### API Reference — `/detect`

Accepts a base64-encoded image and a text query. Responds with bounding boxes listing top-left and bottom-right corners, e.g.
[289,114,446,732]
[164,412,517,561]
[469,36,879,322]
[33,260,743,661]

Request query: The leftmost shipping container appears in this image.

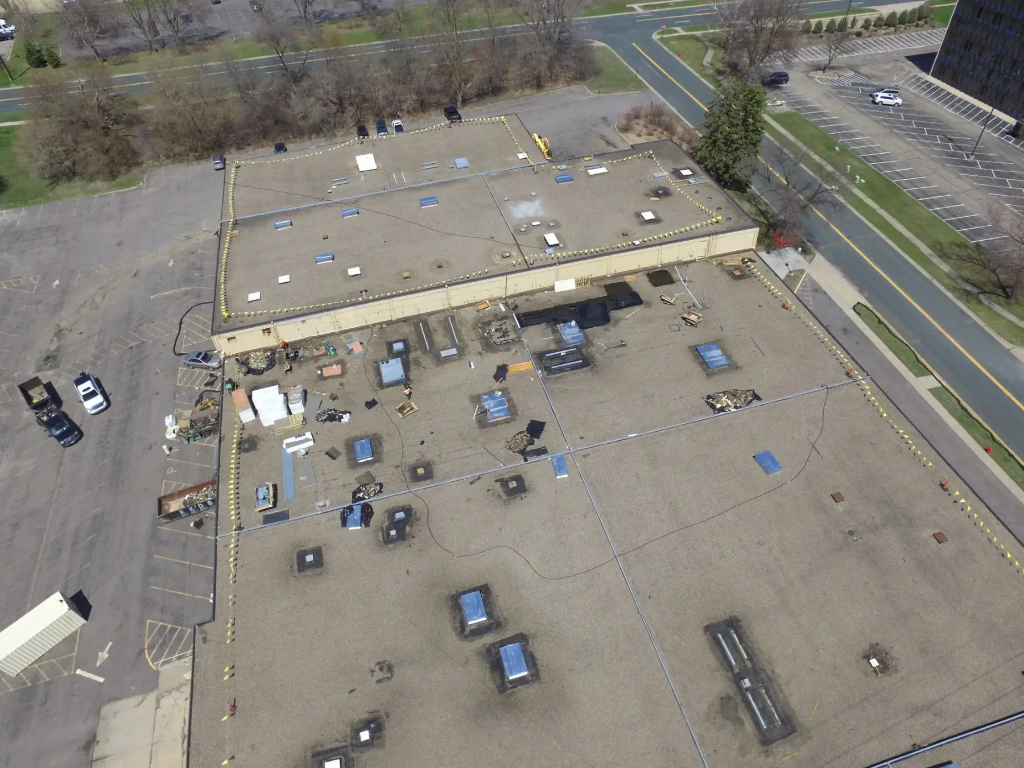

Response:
[0,590,86,676]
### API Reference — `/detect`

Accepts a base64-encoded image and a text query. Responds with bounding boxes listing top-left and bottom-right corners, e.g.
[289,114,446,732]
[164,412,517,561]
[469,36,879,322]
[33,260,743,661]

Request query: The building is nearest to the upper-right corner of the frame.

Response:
[929,0,1024,122]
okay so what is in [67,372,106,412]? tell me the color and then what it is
white truck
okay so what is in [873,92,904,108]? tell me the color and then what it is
white car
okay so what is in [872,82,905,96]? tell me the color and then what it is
gray car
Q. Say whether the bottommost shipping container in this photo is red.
No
